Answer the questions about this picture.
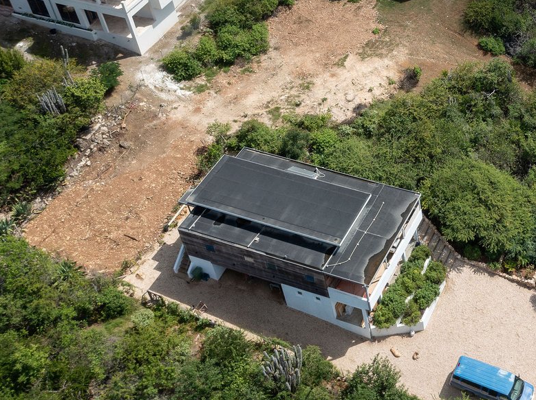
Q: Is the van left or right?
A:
right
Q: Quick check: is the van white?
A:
No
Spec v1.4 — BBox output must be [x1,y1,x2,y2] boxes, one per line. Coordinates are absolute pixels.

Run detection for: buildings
[168,144,416,340]
[0,0,202,55]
